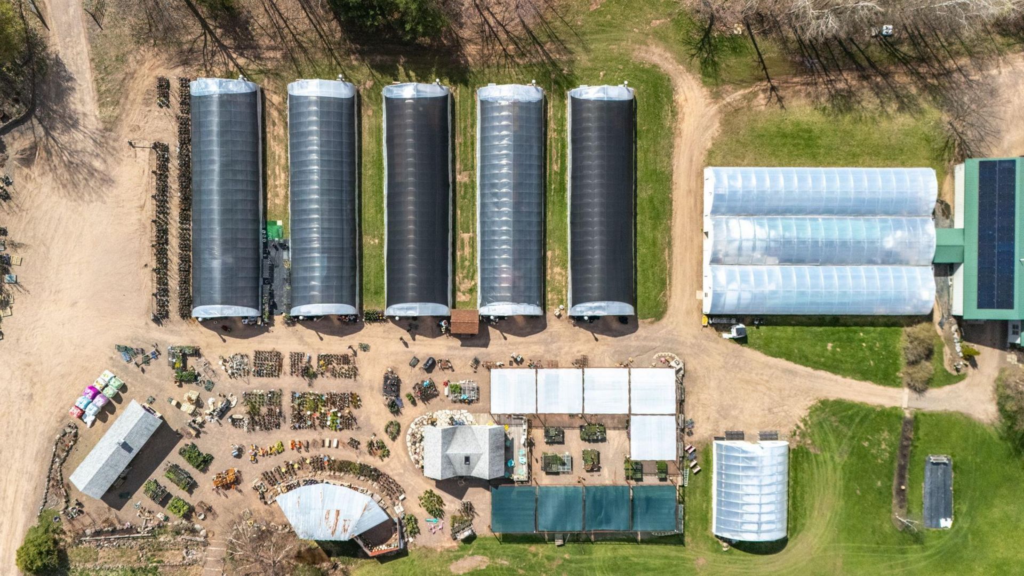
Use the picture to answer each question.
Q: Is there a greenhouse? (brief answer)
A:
Yes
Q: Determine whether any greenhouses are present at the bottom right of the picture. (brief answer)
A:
Yes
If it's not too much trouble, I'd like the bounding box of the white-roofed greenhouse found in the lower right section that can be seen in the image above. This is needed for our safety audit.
[712,440,790,543]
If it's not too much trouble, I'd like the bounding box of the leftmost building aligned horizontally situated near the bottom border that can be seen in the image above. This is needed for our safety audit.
[274,483,396,556]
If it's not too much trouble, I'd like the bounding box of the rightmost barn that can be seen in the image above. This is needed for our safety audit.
[943,154,1024,347]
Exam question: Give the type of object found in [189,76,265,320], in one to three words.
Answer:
greenhouse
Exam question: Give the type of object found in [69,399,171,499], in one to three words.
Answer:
shed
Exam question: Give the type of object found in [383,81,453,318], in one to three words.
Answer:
greenhouse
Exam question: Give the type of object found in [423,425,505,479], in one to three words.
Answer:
building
